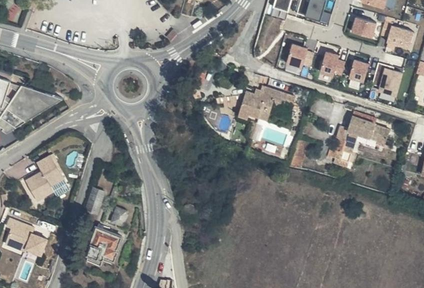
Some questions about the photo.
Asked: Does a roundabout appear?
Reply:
Yes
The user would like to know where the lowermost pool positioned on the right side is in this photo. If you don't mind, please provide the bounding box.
[260,127,287,146]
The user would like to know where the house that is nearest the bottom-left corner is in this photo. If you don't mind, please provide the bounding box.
[1,218,48,258]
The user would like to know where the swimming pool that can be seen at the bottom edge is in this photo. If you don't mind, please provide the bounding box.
[19,260,34,282]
